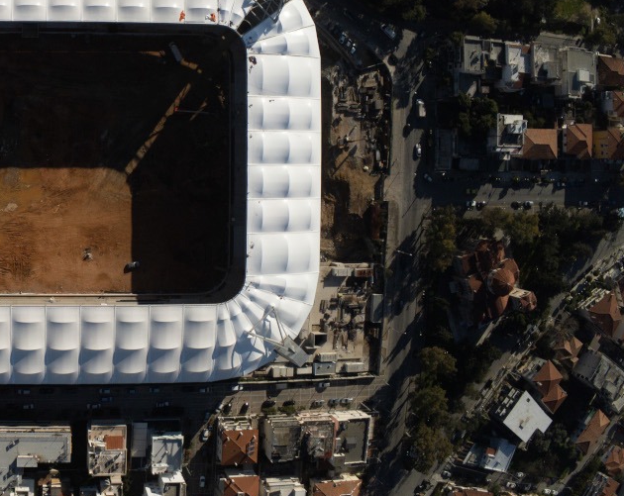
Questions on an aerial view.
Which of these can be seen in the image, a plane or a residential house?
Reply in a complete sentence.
It is a residential house that can be seen here.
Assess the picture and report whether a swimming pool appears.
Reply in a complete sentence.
No, no swimming pool is visible in the scene.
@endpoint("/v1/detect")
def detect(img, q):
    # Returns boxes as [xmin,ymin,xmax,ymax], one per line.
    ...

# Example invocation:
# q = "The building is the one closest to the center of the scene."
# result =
[314,362,338,376]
